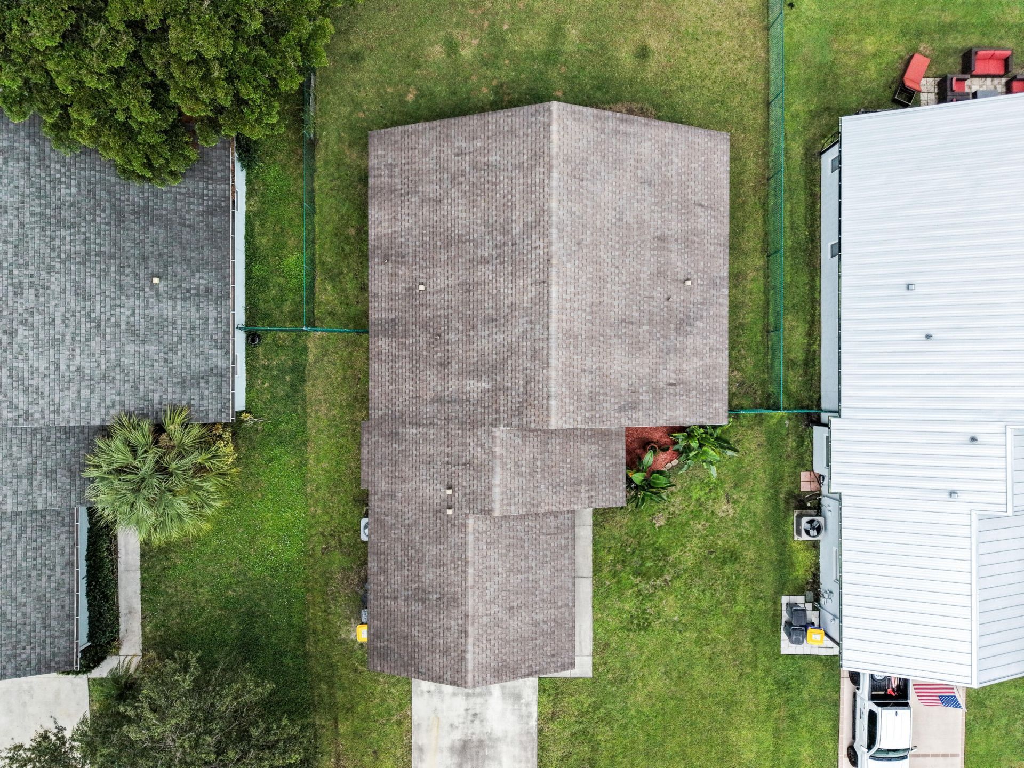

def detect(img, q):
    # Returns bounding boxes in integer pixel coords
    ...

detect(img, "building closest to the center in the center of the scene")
[361,102,733,688]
